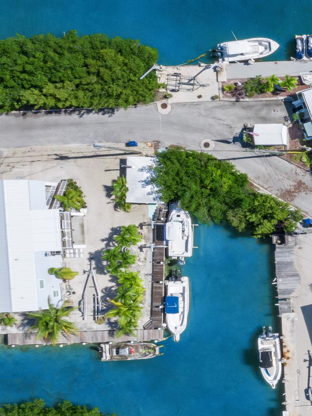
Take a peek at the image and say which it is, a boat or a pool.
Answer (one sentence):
Looking from above, you can make out a boat.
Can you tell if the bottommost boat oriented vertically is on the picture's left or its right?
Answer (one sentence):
You can find the bottommost boat oriented vertically on the right side of the picture.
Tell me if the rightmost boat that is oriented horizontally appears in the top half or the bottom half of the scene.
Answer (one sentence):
Seen from above, the rightmost boat that is oriented horizontally lies in the top half of the view.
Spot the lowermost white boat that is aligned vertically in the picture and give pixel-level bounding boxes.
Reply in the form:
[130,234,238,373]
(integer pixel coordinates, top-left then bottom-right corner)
[259,323,284,389]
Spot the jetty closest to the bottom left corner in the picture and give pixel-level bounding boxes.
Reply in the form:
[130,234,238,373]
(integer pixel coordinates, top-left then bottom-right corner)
[8,329,164,347]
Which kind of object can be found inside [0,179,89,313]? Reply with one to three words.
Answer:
house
